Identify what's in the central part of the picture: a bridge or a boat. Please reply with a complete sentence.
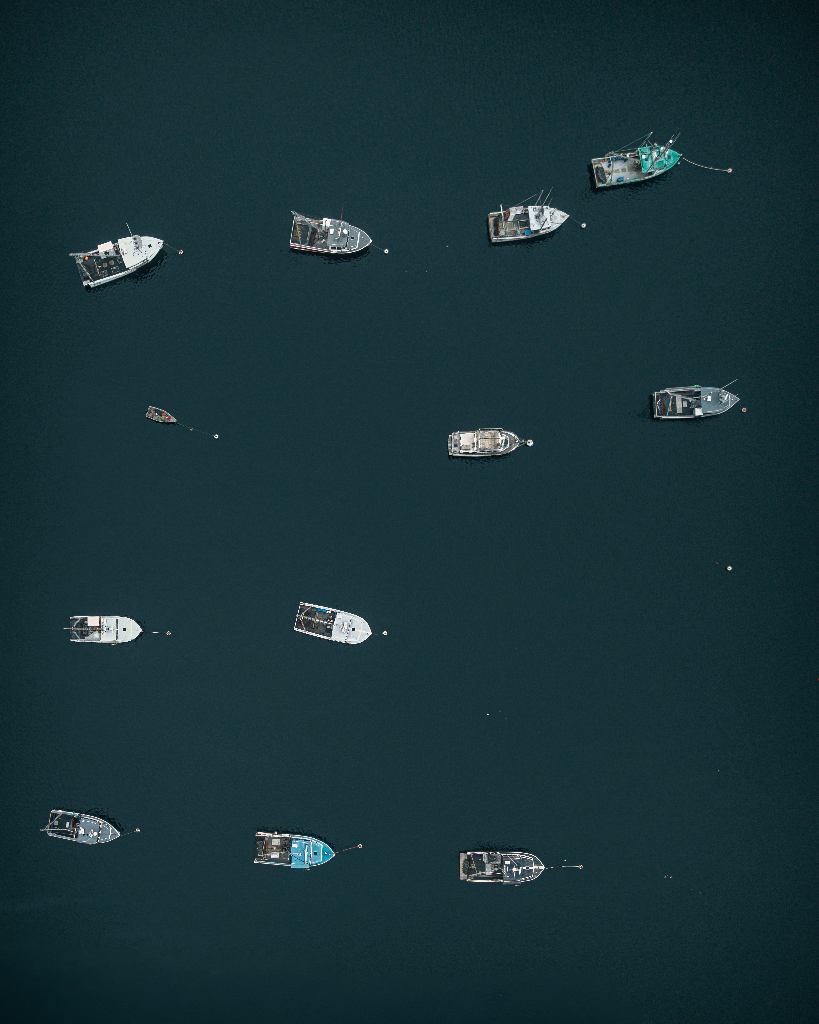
There is a boat in the central part of the picture.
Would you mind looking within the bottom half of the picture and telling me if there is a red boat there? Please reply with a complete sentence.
No, there's no red boat to be seen within the bottom half of the picture.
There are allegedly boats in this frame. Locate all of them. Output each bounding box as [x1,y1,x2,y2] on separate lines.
[650,379,740,418]
[64,615,142,645]
[254,831,335,870]
[144,406,176,423]
[488,187,569,241]
[460,849,545,886]
[40,809,120,845]
[69,223,164,288]
[590,129,683,189]
[449,428,524,456]
[294,602,372,643]
[290,206,372,254]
